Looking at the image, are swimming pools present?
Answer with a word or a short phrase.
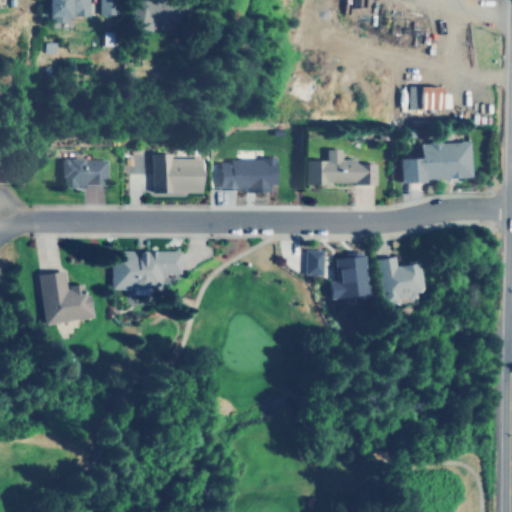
No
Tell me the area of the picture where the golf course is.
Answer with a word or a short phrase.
bottom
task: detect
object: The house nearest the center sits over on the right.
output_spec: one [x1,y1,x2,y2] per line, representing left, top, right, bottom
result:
[306,250,324,276]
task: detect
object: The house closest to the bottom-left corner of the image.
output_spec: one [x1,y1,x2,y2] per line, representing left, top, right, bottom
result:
[37,270,94,325]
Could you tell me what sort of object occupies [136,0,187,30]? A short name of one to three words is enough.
house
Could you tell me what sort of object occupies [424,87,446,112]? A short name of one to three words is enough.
shed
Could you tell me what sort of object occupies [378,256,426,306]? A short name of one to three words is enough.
house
